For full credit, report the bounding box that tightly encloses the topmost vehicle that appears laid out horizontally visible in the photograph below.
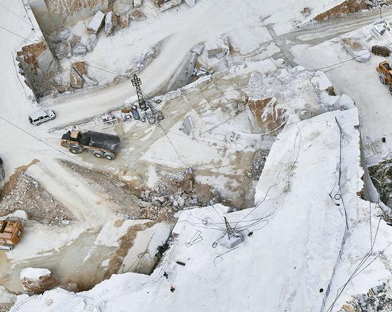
[24,111,56,128]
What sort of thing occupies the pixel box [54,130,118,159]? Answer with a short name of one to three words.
truck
